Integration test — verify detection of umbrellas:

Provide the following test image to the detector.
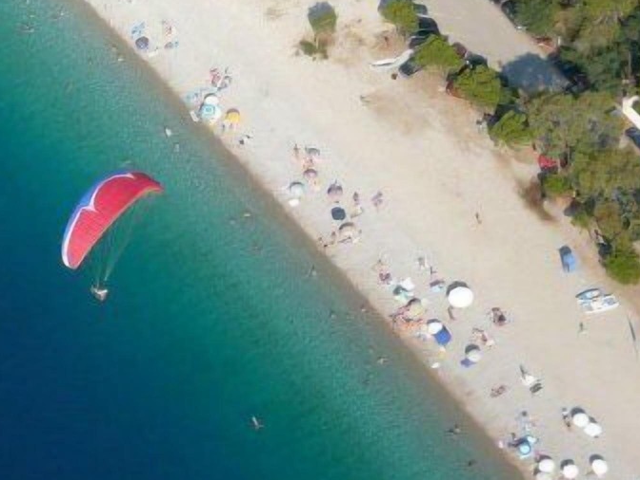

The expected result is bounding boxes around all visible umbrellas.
[517,443,532,456]
[134,37,149,51]
[447,285,473,309]
[563,465,578,480]
[435,329,452,346]
[305,170,318,183]
[591,461,607,476]
[585,423,602,440]
[289,183,303,197]
[225,112,238,126]
[428,323,441,336]
[397,286,412,301]
[407,302,423,317]
[203,94,218,106]
[332,208,346,222]
[203,106,219,121]
[468,350,482,366]
[539,460,554,475]
[575,412,590,428]
[306,149,320,163]
[537,472,552,480]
